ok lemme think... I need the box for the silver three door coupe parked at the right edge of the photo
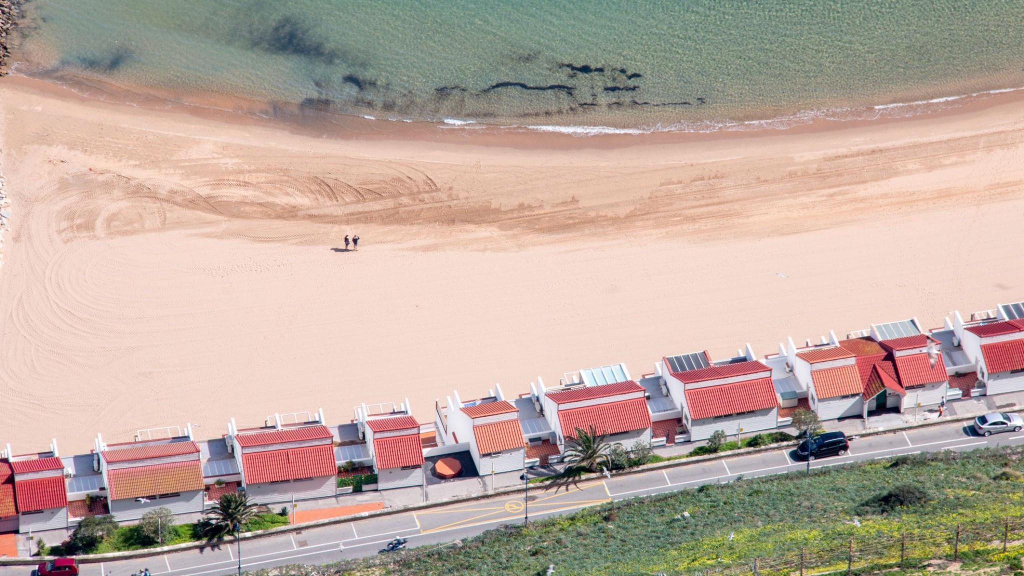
[975,412,1024,436]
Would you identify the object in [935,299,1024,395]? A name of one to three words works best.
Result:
house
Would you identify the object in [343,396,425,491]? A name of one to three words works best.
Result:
house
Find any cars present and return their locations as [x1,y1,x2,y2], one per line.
[801,430,849,460]
[35,558,79,576]
[975,412,1024,436]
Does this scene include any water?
Yes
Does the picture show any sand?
Yes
